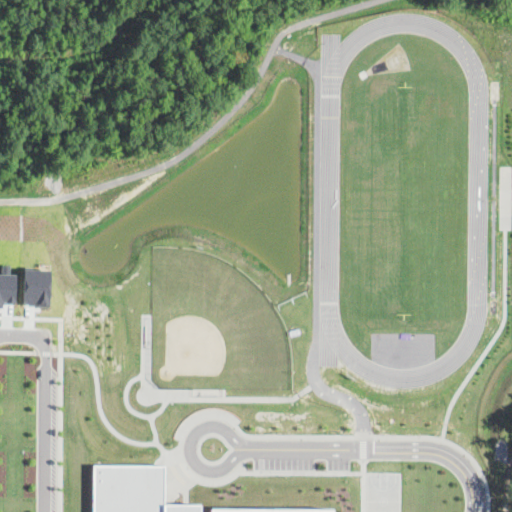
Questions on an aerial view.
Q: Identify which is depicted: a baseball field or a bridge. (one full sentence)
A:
It is a baseball field that can be seen here.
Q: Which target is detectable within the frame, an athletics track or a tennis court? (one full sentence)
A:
The one in the frame is an athletics track.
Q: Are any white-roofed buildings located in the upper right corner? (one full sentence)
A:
No, the scene shows no white-roofed building in the upper right corner.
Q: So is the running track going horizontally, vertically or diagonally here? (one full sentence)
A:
In this picture, the running track is oriented vertically.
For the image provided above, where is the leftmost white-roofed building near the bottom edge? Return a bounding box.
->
[92,464,166,512]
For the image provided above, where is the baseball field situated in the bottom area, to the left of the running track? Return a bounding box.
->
[153,248,292,389]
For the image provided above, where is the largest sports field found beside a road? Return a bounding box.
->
[340,34,468,361]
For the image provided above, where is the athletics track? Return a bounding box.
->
[320,14,488,389]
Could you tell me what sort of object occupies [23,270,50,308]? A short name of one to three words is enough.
house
